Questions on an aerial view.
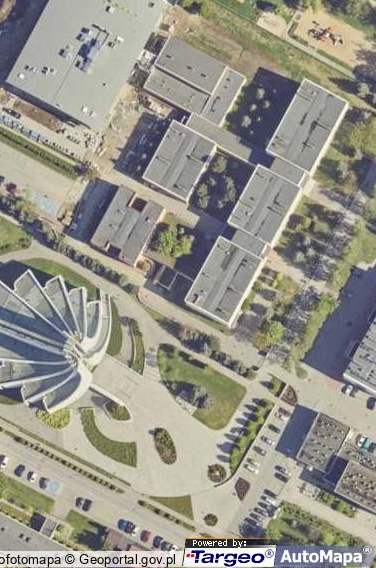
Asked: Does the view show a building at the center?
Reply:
Yes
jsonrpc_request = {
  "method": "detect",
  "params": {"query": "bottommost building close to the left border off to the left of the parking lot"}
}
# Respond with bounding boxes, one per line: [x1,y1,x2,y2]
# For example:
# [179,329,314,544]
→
[0,513,118,568]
